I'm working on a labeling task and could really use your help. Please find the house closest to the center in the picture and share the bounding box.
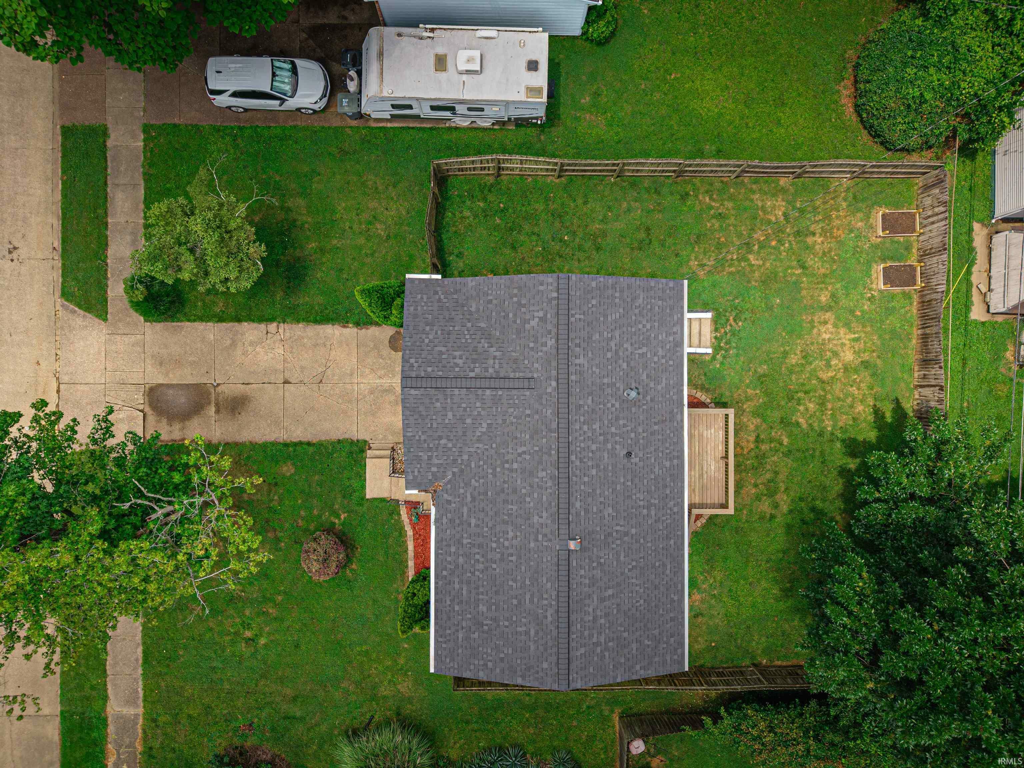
[401,274,688,689]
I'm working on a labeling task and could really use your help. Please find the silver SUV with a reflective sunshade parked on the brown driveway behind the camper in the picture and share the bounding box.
[205,49,332,117]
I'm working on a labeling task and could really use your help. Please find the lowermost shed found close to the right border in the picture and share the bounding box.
[977,232,1024,312]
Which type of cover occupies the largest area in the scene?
grass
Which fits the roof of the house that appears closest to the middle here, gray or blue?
gray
